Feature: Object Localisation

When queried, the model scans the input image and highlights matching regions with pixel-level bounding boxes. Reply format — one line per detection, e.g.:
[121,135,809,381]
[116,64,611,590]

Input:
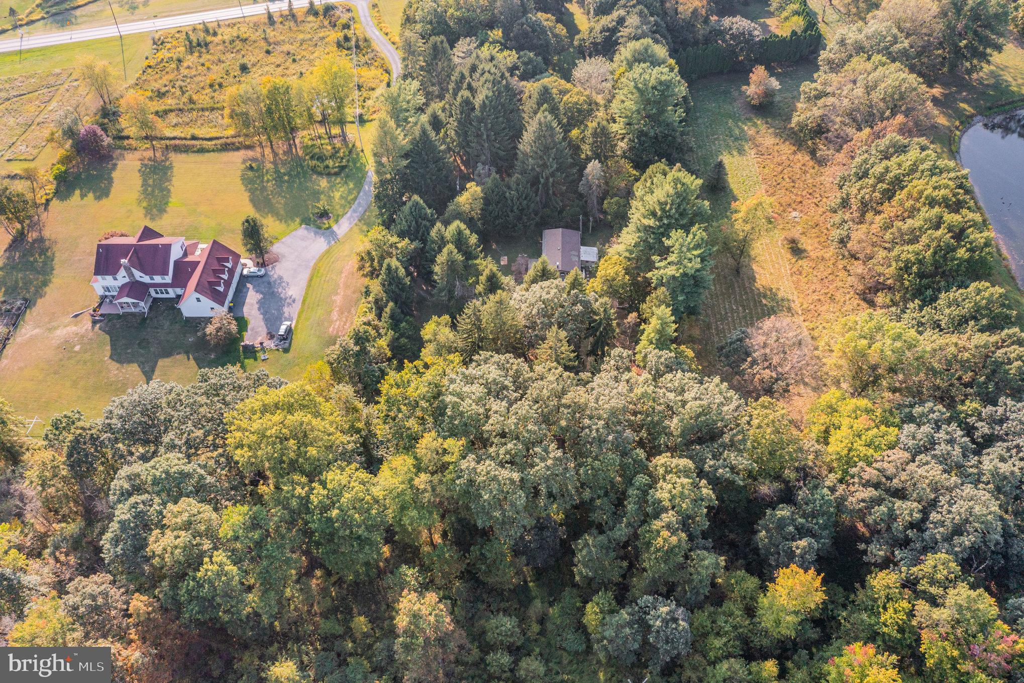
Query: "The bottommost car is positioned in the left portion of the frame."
[276,324,293,343]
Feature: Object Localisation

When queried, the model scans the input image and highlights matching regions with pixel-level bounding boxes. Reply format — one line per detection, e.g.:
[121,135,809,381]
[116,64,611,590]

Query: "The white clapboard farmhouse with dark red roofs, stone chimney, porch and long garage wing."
[88,222,244,319]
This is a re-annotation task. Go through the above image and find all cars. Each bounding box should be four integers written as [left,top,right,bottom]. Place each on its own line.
[242,268,264,278]
[276,324,293,343]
